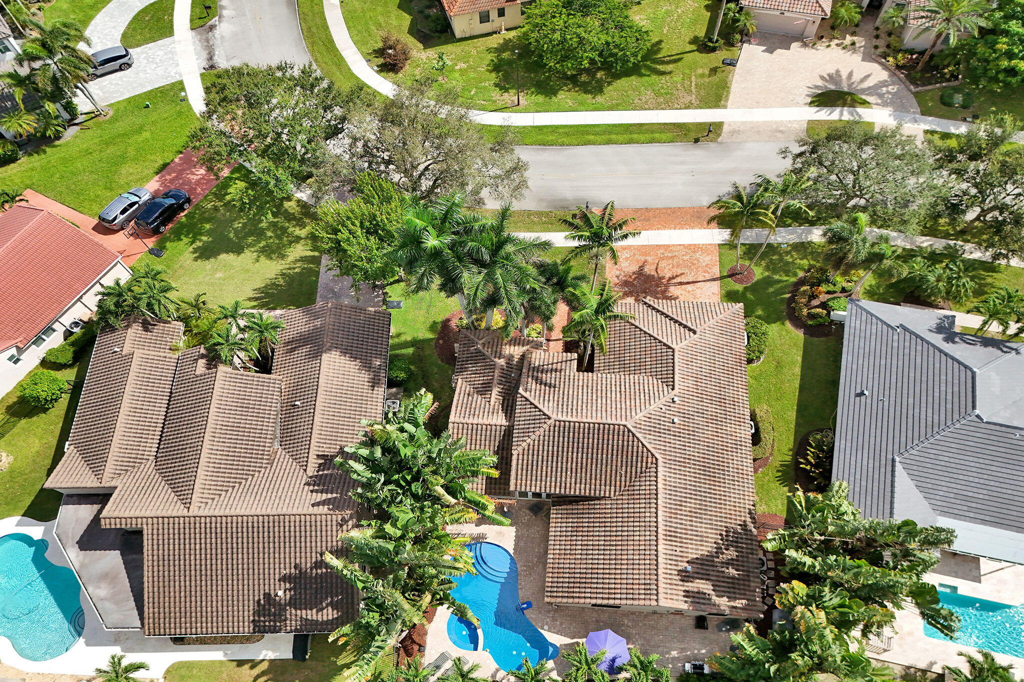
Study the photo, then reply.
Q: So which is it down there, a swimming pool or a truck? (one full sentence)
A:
Of the two, only a swimming pool appears.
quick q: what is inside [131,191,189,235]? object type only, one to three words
car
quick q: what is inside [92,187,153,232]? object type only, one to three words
car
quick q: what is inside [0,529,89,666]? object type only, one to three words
swimming pool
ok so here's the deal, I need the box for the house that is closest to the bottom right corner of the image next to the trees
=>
[828,298,1024,569]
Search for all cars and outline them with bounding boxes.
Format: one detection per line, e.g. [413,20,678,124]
[79,45,134,79]
[131,191,189,235]
[92,187,153,232]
